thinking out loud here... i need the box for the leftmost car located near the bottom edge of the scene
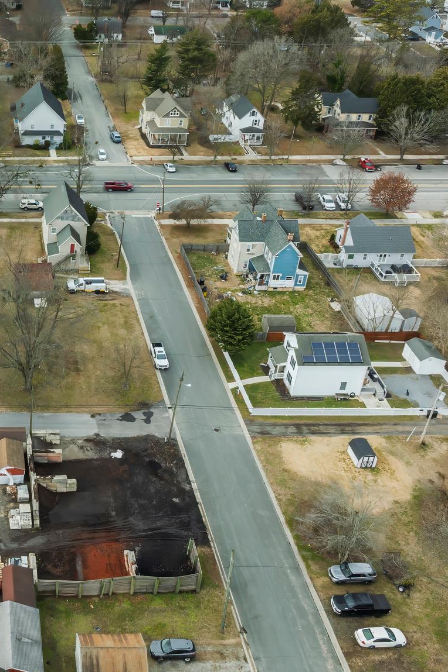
[145,633,203,663]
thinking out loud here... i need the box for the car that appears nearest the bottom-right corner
[352,623,412,651]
